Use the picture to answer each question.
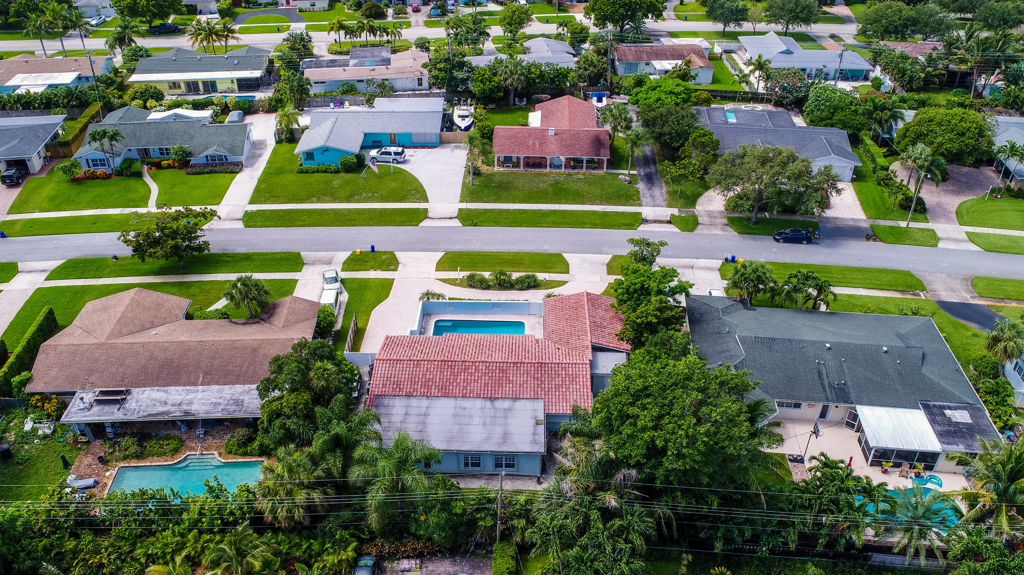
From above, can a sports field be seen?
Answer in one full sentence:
No, the scene contains no sports field.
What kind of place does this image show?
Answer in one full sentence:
The picture captures a residential area.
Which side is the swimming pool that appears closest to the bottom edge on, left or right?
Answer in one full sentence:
It is on the right.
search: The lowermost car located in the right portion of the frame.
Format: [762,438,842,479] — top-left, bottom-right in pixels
[702,283,726,297]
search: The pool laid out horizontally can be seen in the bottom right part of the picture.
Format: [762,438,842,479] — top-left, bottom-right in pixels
[848,485,968,538]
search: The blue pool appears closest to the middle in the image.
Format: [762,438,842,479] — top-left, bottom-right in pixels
[431,318,529,334]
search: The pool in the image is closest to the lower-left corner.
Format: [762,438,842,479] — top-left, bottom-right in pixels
[99,450,265,516]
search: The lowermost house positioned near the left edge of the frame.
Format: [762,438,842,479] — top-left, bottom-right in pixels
[24,287,321,435]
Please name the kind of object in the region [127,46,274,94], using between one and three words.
house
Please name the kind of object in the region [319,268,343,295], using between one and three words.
car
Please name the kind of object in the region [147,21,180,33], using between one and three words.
vehicle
